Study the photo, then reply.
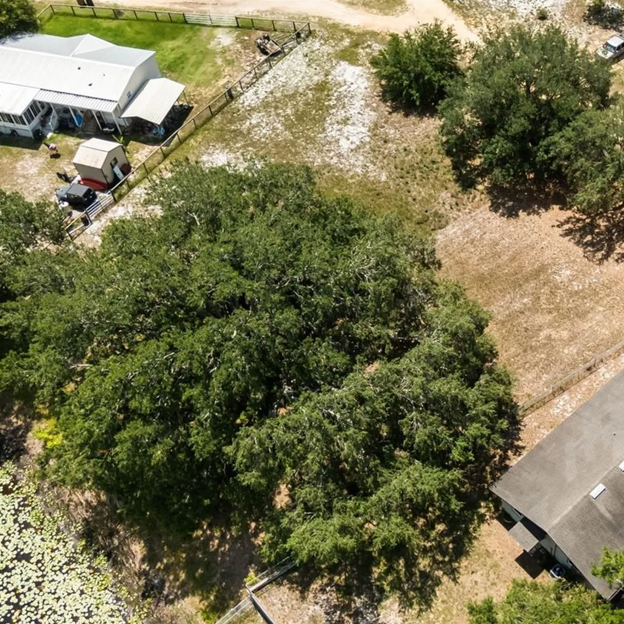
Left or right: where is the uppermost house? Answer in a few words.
left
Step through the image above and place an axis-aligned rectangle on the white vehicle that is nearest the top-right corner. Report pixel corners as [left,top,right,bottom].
[597,24,624,56]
